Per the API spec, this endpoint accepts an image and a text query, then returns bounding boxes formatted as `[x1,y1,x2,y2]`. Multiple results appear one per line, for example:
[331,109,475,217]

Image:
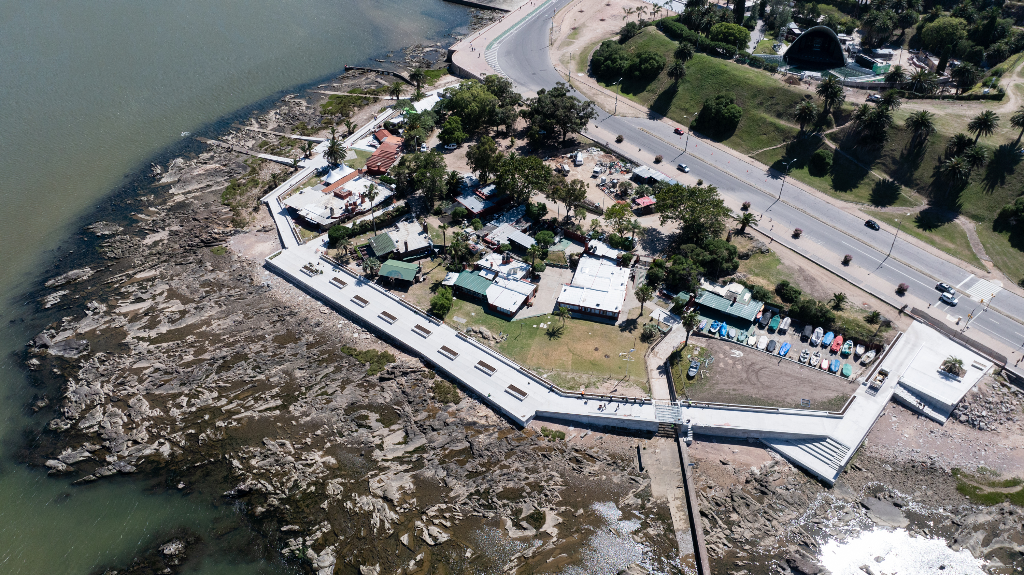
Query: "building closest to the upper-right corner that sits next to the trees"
[910,51,939,72]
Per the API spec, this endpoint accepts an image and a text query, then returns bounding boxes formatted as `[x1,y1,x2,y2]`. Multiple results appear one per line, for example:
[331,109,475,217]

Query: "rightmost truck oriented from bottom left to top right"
[864,361,895,393]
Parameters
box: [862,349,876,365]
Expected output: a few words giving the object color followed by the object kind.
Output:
white boat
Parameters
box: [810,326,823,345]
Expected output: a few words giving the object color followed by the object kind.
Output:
white boat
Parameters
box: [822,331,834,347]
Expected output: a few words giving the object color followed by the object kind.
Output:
blue boat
